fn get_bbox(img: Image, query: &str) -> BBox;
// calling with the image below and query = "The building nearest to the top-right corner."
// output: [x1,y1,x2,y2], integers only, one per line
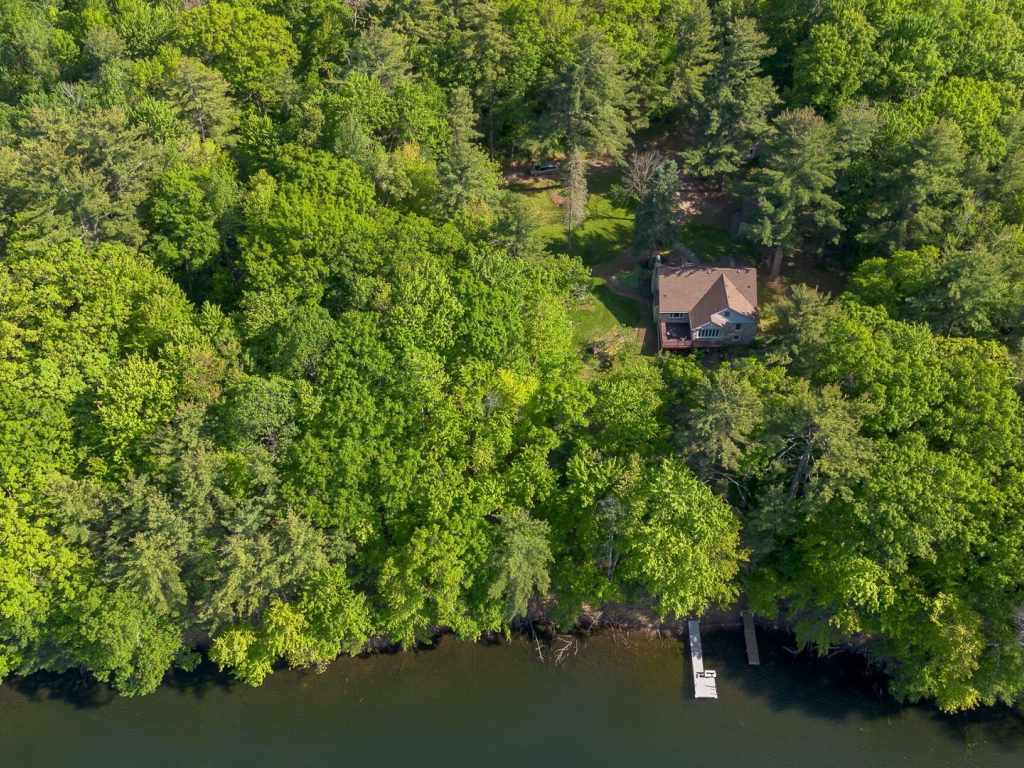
[650,262,758,361]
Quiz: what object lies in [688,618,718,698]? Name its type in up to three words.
pier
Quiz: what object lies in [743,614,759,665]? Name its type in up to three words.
pier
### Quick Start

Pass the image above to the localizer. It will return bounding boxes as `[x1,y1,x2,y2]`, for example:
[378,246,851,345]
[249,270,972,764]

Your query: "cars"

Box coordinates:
[525,165,558,180]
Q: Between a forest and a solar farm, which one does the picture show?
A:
forest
